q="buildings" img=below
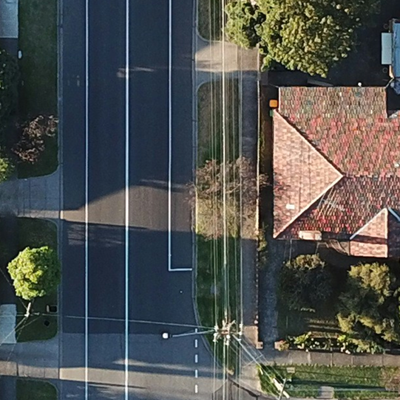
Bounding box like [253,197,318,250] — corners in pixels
[272,81,400,258]
[381,19,400,77]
